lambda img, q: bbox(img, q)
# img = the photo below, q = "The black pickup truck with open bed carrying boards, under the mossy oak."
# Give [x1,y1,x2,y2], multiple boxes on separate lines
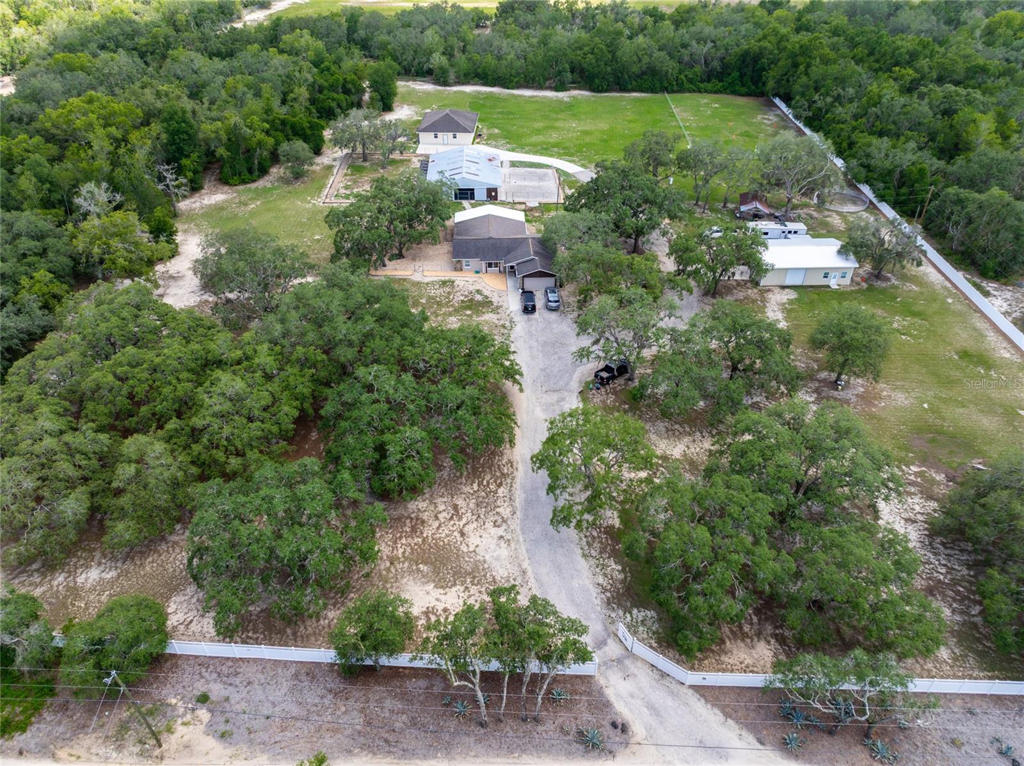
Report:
[599,356,632,386]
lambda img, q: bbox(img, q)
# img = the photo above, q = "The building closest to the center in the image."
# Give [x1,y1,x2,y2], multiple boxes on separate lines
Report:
[451,203,569,289]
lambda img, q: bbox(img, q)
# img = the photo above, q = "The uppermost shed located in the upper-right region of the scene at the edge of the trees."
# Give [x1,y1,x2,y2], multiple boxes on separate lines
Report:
[729,189,768,223]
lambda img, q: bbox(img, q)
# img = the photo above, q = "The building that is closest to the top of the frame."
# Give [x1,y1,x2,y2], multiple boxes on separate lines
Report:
[417,110,477,146]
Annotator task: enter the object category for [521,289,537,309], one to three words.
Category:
car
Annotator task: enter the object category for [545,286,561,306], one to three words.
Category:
car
